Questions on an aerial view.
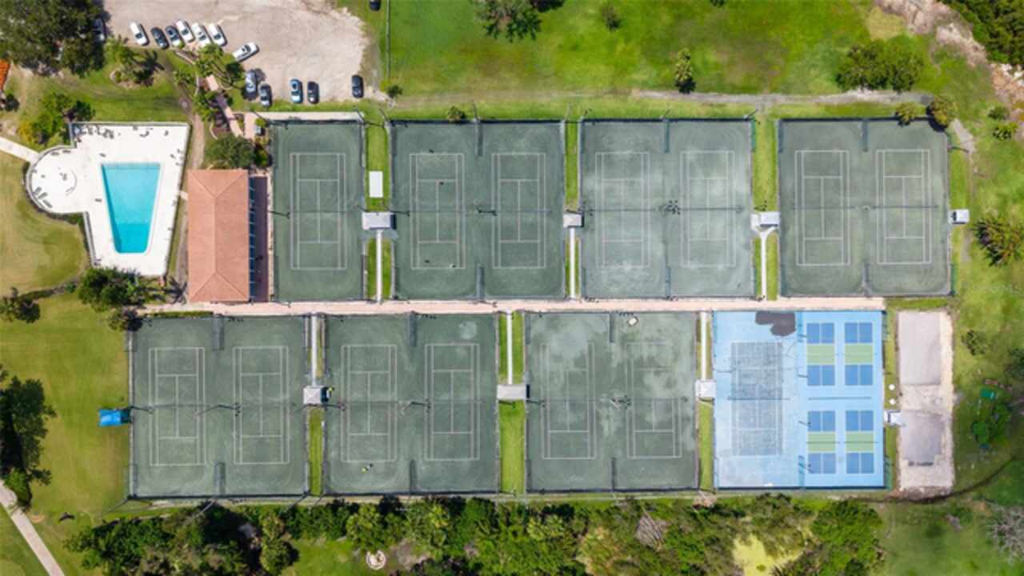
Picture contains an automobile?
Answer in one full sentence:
Yes, there's an automobile here.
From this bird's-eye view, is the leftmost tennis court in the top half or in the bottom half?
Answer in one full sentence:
The bottom half of the photo is where the leftmost tennis court is.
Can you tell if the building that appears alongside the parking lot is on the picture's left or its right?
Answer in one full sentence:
It is on the left.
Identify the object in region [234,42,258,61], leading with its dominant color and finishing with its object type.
white car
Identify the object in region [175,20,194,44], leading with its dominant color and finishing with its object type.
white car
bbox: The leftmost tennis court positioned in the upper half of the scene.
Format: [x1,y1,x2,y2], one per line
[273,120,363,301]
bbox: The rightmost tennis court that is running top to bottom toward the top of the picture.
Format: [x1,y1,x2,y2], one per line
[864,118,951,296]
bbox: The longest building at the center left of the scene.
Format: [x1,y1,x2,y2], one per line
[187,169,257,303]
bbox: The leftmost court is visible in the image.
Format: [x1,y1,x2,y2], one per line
[130,316,219,497]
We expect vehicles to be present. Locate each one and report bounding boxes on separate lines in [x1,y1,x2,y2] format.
[369,0,380,12]
[260,84,272,107]
[207,23,225,46]
[164,25,182,47]
[151,27,170,50]
[129,21,149,46]
[307,81,318,104]
[290,79,302,103]
[351,74,362,98]
[234,42,258,61]
[191,23,209,47]
[175,20,194,44]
